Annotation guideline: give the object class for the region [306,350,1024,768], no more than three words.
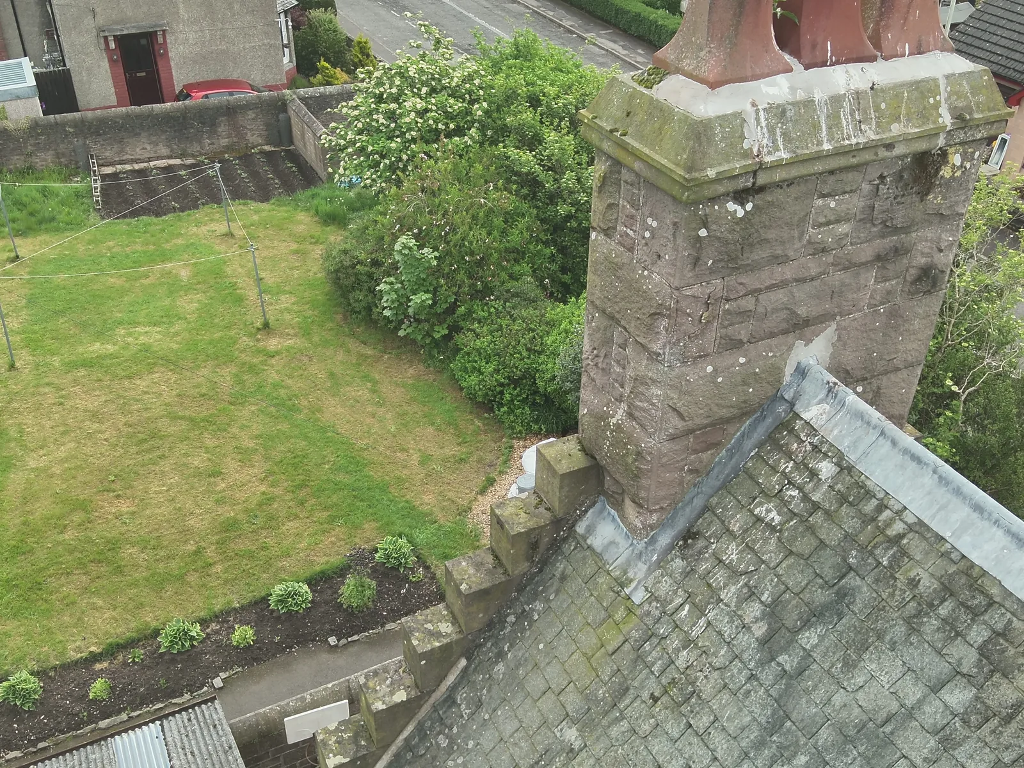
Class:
house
